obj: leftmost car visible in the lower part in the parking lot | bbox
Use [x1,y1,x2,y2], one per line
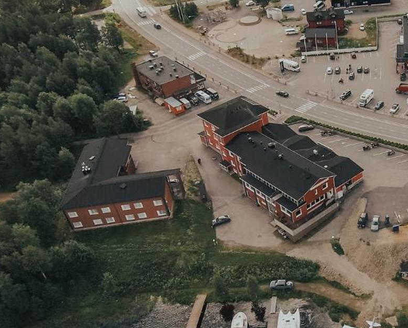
[212,215,232,227]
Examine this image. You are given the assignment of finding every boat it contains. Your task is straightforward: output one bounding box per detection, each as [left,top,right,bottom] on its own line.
[231,308,248,328]
[279,309,300,328]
